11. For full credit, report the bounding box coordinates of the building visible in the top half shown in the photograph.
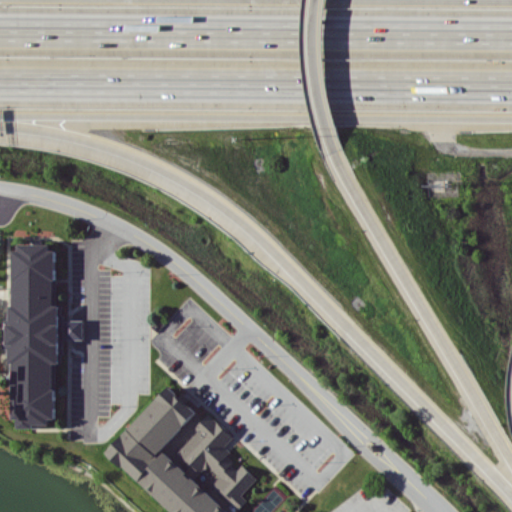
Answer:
[420,172,461,198]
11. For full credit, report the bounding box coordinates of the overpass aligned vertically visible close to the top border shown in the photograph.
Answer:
[300,0,344,154]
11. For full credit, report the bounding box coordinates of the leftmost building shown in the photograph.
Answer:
[1,245,58,430]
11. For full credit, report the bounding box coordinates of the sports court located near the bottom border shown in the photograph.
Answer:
[252,488,287,512]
